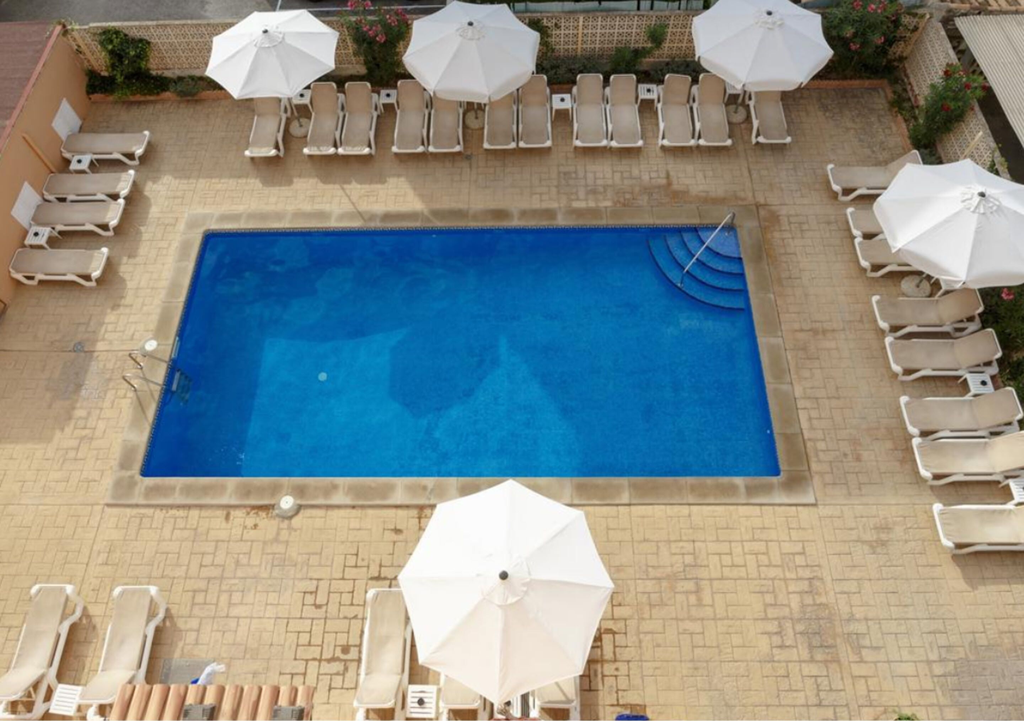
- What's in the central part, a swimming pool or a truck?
swimming pool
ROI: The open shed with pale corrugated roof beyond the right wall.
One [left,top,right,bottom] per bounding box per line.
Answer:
[947,14,1024,159]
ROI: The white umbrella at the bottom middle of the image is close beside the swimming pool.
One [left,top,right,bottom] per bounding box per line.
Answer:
[396,479,616,704]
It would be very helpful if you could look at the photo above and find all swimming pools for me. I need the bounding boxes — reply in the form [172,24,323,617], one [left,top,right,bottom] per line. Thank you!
[150,234,775,476]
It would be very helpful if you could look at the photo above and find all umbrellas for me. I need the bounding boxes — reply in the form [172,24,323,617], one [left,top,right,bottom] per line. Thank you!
[203,10,340,136]
[876,154,1024,298]
[403,0,541,129]
[396,479,616,704]
[694,0,832,124]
